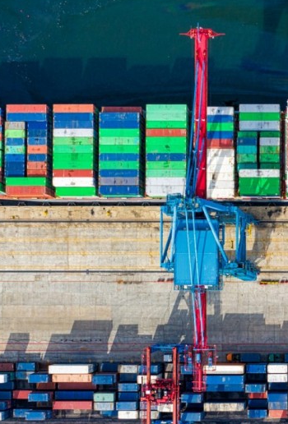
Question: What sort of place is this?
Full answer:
What you see here is a port.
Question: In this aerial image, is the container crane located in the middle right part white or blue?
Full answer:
The container crane located in the middle right part looks blue in the image.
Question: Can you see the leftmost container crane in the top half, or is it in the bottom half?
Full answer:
You can find the leftmost container crane in the bottom half.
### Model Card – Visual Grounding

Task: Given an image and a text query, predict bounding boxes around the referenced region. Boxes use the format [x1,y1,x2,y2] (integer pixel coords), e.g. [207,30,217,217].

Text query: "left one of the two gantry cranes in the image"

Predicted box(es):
[141,342,195,424]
